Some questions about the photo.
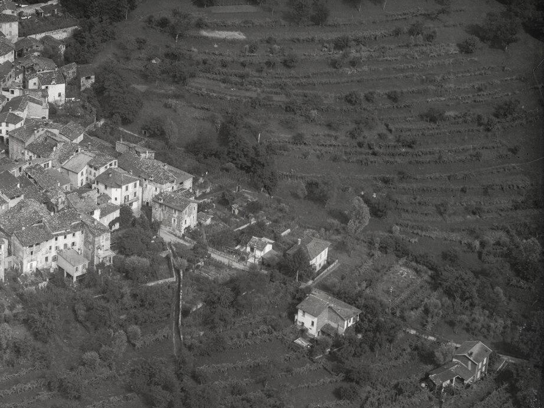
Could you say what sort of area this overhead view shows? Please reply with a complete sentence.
What you see here is a residential area.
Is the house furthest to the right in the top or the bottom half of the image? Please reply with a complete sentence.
You can find the house furthest to the right in the bottom half.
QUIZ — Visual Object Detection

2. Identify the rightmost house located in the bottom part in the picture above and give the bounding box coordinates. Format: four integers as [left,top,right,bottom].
[457,339,492,384]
